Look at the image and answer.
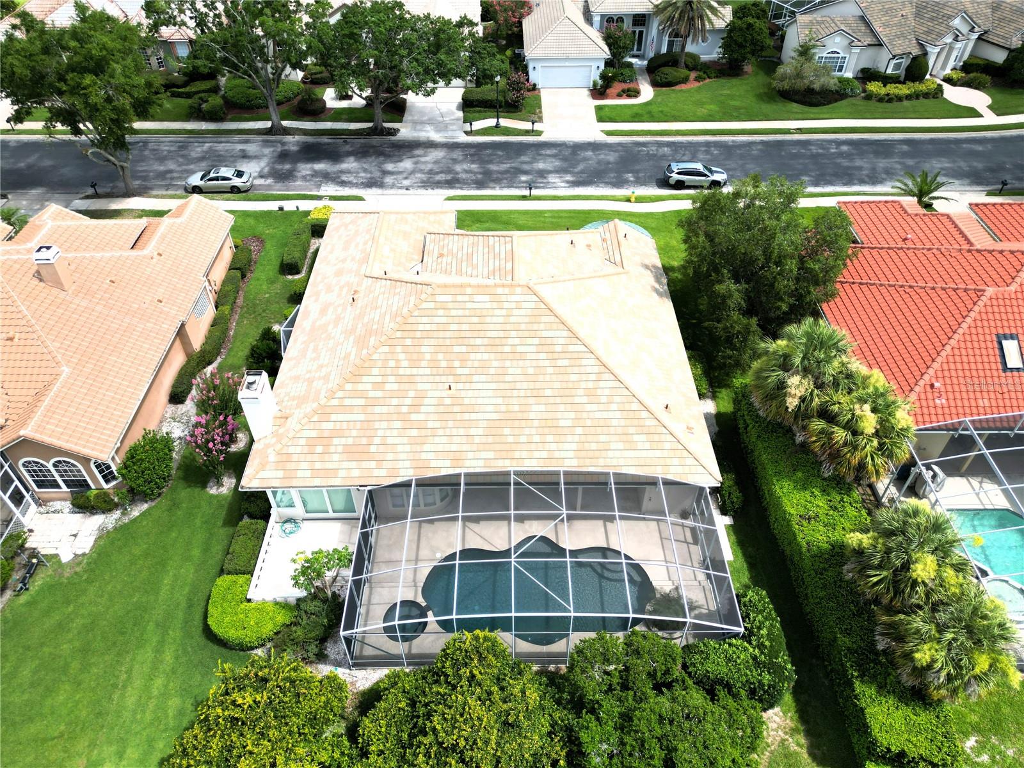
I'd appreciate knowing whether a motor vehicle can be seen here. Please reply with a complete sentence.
Yes, there is a motor vehicle in the image.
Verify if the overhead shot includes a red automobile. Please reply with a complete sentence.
No, no red automobile is visible in the view.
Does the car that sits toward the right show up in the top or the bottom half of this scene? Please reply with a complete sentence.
The car that sits toward the right sits in the top half of the picture.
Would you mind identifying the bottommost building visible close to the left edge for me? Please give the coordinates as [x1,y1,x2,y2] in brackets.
[0,196,239,496]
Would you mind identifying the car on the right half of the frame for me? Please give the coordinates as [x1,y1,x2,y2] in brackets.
[661,158,729,189]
